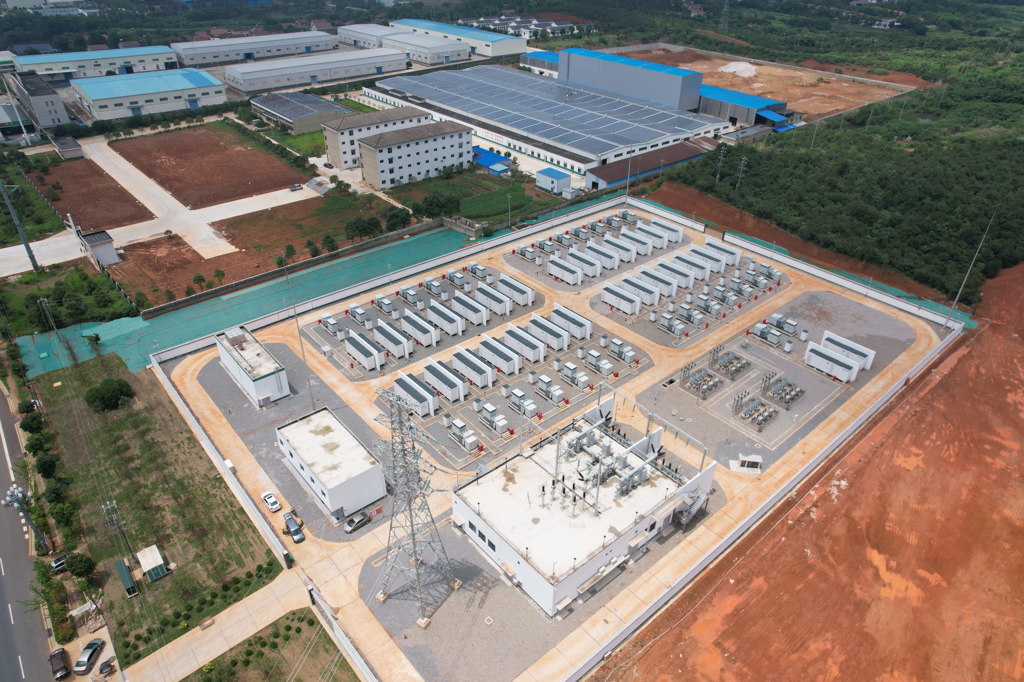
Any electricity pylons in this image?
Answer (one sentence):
Yes, there's an electricity pylon here.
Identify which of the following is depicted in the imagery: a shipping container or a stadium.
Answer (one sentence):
It is a shipping container that can be seen here.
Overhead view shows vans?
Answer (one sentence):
Yes, a van is visible in the scene.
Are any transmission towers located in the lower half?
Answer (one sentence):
Yes, a transmission tower can be seen in the lower half.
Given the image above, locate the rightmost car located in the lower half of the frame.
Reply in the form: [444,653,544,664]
[341,514,372,534]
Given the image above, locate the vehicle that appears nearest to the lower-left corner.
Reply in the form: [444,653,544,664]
[45,645,71,680]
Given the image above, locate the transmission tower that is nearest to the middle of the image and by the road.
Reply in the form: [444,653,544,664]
[368,390,462,618]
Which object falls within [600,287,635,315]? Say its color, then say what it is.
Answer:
white shipping container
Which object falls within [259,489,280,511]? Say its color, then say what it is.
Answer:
white car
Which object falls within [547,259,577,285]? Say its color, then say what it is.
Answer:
white shipping container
